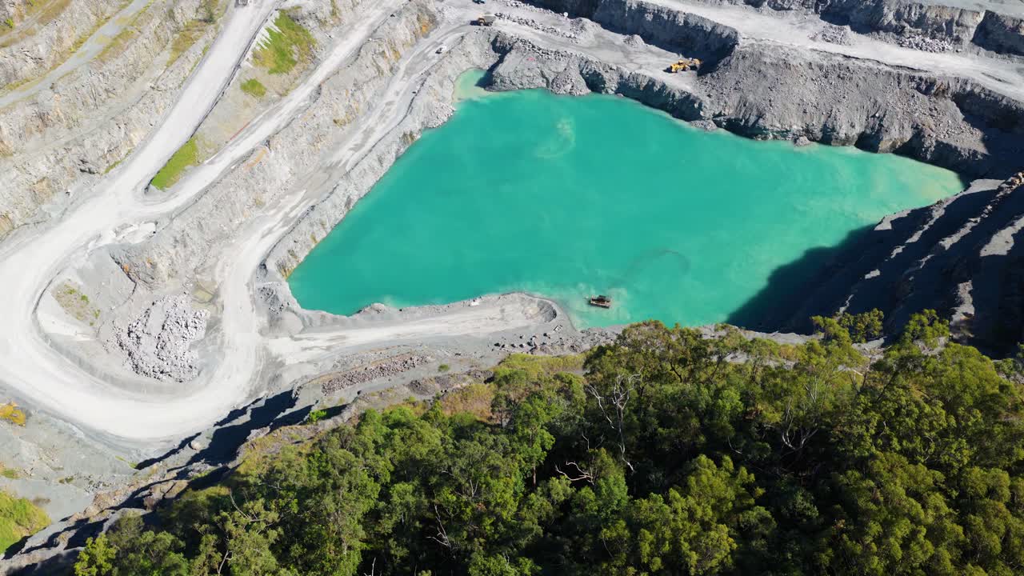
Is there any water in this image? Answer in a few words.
Yes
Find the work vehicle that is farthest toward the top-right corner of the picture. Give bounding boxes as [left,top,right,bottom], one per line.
[670,60,699,74]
